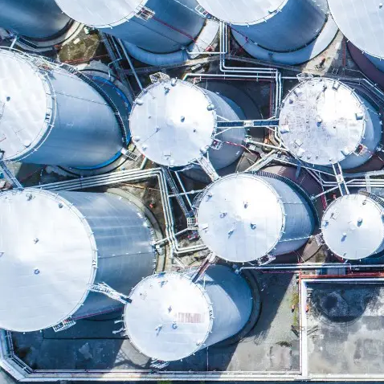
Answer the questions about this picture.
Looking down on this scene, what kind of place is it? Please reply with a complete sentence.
This image shows an industrial area.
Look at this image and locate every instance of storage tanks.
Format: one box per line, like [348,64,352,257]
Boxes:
[0,40,139,178]
[0,178,170,339]
[275,65,384,184]
[121,252,264,373]
[51,0,222,69]
[327,0,384,91]
[125,67,264,189]
[0,0,76,51]
[183,163,328,270]
[187,0,338,65]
